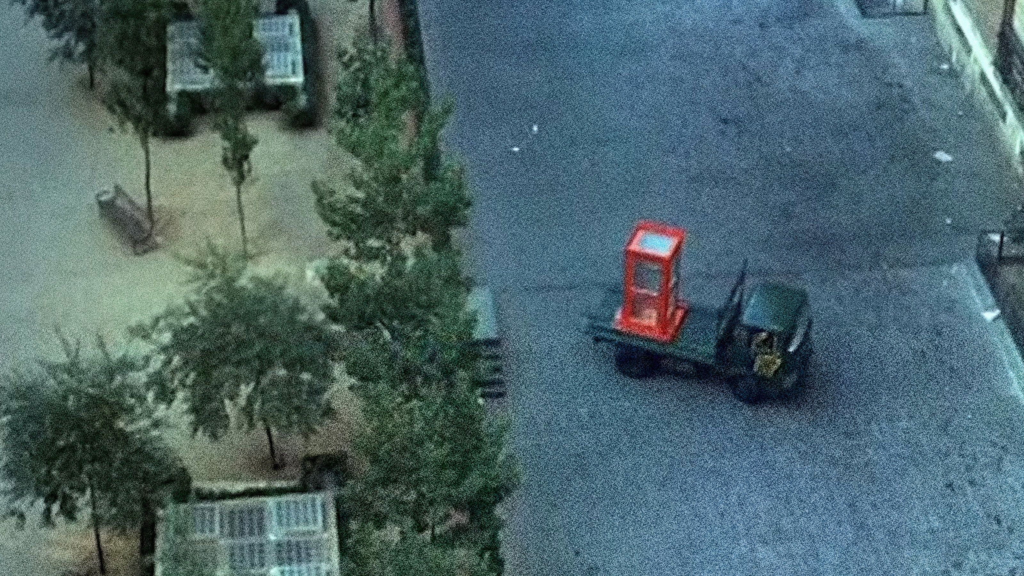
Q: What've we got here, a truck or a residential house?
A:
truck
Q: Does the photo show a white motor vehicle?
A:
No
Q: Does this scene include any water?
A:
No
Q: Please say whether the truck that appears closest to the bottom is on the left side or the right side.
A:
right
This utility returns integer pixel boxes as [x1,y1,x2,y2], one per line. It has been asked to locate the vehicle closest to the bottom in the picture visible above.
[582,256,817,408]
